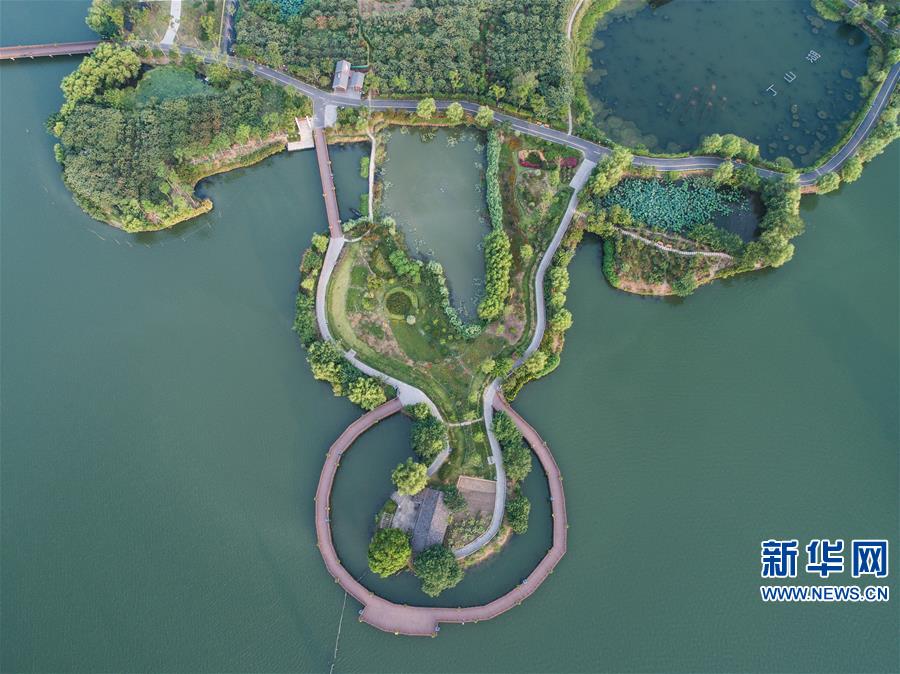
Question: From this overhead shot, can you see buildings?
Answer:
Yes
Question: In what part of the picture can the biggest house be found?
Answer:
bottom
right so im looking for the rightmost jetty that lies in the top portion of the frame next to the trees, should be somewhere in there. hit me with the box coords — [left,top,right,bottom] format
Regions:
[288,114,315,152]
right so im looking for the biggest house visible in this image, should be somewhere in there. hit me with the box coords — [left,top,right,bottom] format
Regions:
[411,489,447,547]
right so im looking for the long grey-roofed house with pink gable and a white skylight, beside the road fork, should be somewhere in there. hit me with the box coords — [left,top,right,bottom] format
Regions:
[333,60,351,91]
